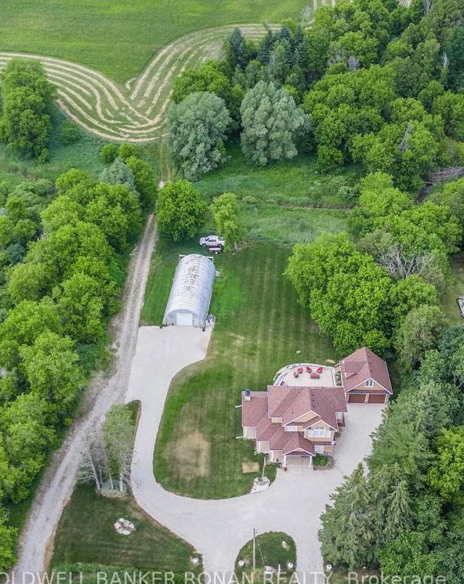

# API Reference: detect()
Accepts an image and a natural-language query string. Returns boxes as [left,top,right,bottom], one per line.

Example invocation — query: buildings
[162,253,216,325]
[235,383,347,472]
